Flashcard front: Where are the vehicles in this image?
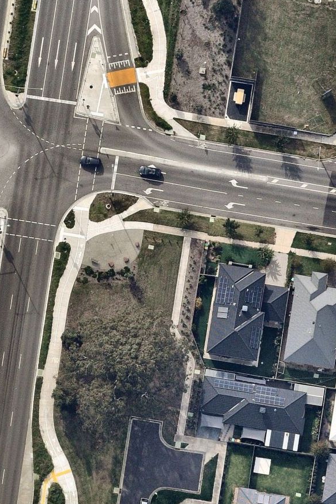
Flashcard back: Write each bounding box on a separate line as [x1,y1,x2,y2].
[138,167,162,178]
[80,156,102,168]
[139,496,149,504]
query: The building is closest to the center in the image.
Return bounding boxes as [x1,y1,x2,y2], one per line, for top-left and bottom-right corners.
[207,261,290,361]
